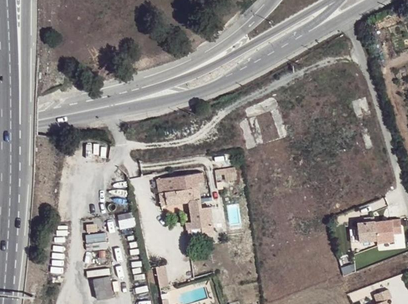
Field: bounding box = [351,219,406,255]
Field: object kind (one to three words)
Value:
house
